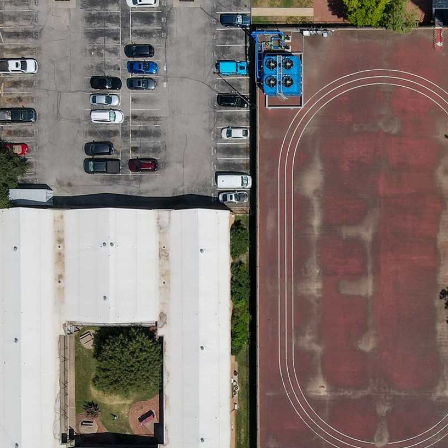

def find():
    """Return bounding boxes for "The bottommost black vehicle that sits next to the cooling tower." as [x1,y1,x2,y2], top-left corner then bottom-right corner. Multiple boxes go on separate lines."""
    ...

[217,92,249,108]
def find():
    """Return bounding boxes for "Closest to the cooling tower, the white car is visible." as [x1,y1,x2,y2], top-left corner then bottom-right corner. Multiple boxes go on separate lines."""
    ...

[222,125,250,139]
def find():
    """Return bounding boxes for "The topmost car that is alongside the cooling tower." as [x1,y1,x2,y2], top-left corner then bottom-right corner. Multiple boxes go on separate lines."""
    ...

[220,12,251,27]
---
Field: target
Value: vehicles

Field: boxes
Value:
[0,107,37,123]
[220,12,251,27]
[91,76,123,90]
[85,141,114,156]
[126,77,157,91]
[222,125,250,139]
[127,59,158,75]
[125,43,155,58]
[0,56,40,74]
[215,172,253,188]
[4,142,30,155]
[217,92,249,108]
[130,159,159,172]
[91,92,122,107]
[85,158,123,173]
[216,60,249,75]
[91,108,125,124]
[220,191,249,204]
[127,0,160,9]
